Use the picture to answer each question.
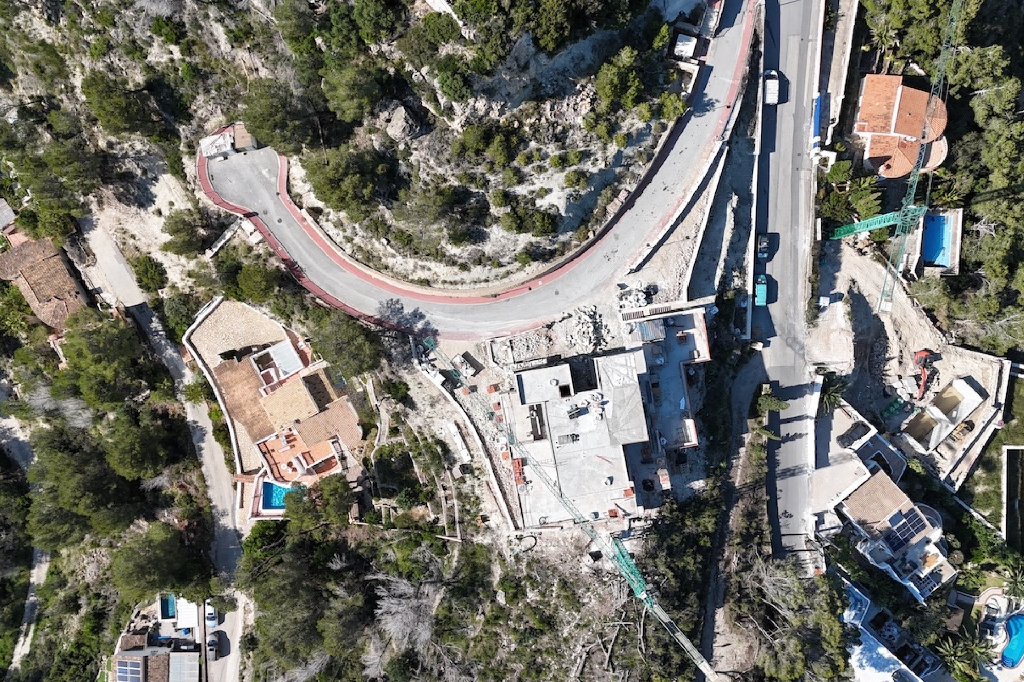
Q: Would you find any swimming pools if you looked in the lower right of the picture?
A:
Yes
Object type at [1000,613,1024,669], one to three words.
swimming pool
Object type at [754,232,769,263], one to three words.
vehicle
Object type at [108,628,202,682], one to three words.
house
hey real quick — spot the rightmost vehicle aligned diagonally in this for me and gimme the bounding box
[949,421,973,442]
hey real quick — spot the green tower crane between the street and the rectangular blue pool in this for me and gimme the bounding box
[821,0,966,306]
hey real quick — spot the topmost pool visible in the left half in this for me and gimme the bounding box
[259,478,303,513]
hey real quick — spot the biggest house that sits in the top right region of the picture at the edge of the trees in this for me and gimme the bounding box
[847,74,948,181]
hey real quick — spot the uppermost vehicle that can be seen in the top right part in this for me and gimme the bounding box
[760,72,778,109]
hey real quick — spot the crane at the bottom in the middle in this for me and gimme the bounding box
[422,338,721,682]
